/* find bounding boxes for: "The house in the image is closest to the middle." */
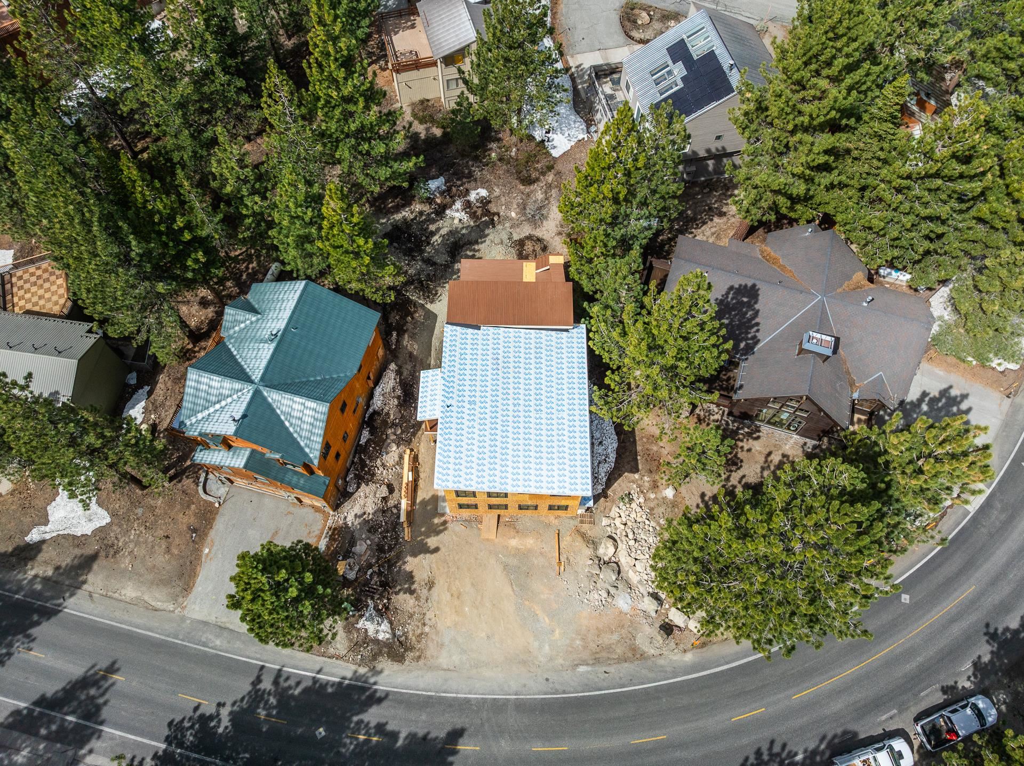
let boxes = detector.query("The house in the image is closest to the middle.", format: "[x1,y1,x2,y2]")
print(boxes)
[417,294,593,519]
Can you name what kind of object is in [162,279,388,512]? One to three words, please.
house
